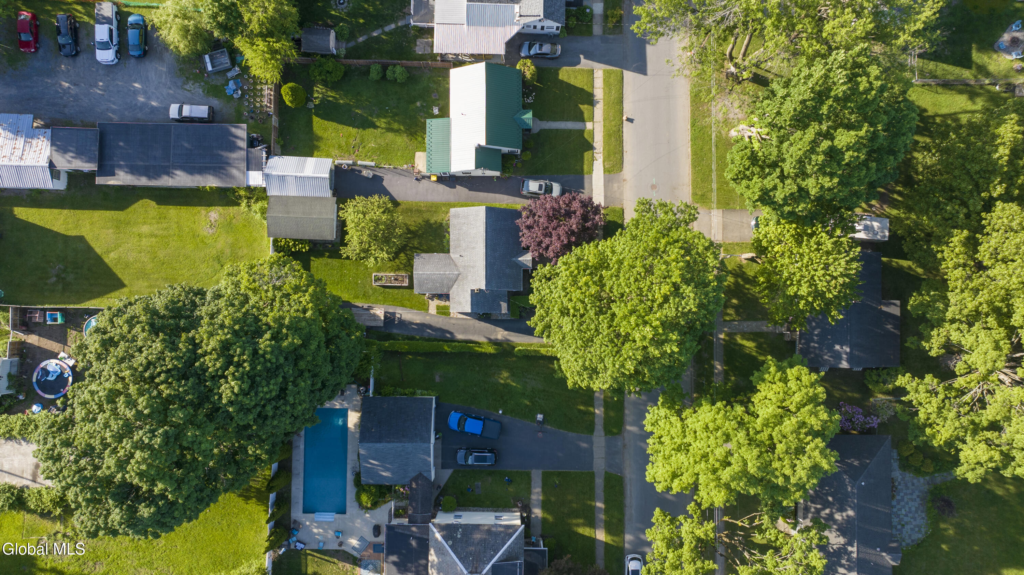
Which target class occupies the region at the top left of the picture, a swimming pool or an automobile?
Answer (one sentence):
It is an automobile that can be seen at the top left of the picture.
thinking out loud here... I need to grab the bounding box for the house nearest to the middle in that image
[412,206,532,313]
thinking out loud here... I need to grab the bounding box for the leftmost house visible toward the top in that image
[0,114,67,190]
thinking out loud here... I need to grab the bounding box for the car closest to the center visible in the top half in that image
[520,178,562,198]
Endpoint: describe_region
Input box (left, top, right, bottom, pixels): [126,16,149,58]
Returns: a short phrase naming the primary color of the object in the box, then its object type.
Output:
blue car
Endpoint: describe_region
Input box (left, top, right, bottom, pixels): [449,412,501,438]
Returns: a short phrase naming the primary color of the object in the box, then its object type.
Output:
blue truck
